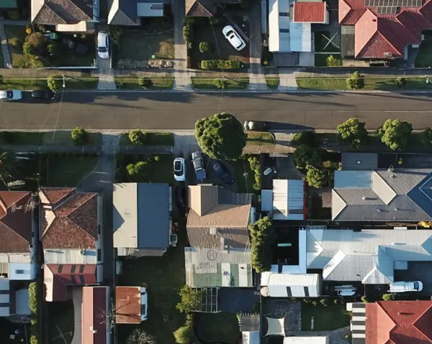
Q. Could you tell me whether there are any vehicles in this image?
Yes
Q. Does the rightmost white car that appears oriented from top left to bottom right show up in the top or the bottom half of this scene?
top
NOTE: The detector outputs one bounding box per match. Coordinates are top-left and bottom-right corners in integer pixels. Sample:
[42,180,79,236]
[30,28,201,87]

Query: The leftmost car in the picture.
[0,88,23,102]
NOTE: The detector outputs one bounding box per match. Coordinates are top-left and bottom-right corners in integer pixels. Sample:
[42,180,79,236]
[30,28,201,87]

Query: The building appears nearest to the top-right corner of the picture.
[338,0,432,61]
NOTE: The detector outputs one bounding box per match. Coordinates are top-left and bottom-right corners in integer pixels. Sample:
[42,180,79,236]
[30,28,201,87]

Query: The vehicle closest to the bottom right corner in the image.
[391,279,422,293]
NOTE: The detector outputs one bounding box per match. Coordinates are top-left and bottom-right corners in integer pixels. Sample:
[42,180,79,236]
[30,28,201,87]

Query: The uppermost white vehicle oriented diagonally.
[220,23,247,52]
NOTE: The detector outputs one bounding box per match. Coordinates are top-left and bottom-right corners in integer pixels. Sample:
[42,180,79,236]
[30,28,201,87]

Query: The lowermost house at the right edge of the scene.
[346,300,432,344]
